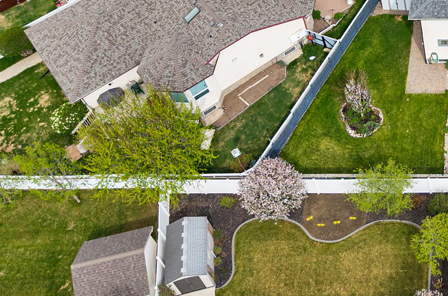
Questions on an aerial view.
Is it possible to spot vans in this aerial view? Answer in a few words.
No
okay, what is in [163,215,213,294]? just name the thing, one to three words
shed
